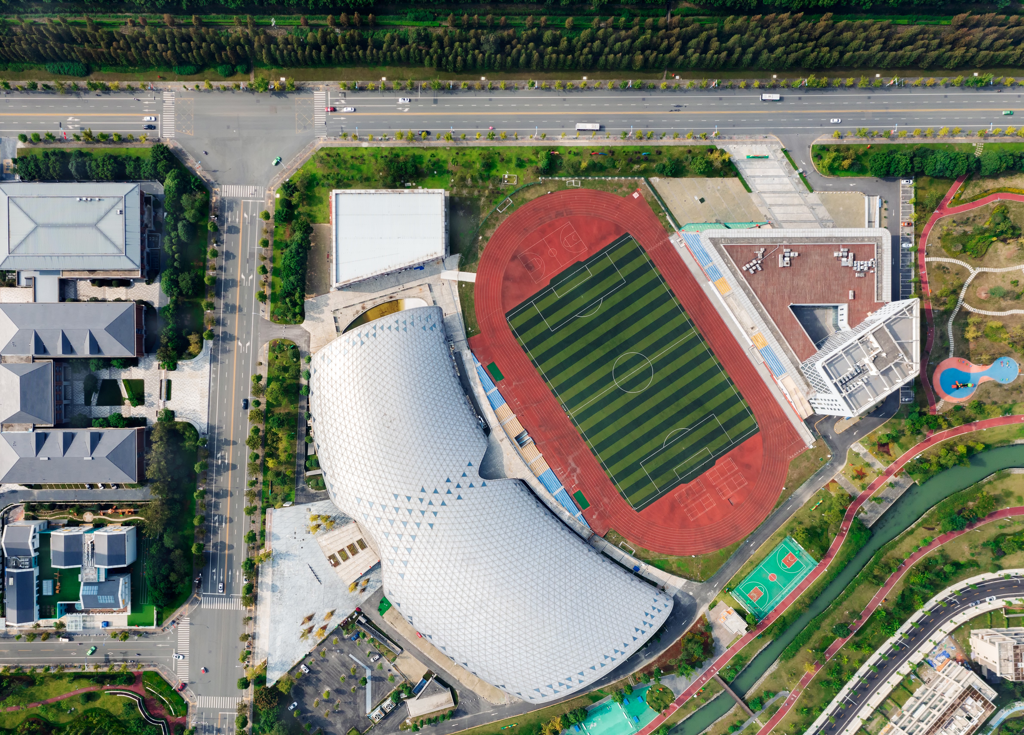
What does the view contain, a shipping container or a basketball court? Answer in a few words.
basketball court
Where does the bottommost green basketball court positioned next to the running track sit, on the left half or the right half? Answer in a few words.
right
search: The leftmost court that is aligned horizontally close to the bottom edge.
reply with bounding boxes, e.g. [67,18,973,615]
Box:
[560,704,636,735]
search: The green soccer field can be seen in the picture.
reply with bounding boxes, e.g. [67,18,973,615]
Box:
[501,229,761,515]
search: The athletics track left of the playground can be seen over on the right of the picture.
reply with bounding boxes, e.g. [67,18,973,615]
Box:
[465,189,807,557]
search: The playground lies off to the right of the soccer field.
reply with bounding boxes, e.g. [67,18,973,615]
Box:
[933,357,1018,402]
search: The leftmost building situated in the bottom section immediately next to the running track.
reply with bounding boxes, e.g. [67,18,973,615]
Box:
[310,307,674,703]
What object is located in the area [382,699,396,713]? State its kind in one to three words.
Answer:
cooling tower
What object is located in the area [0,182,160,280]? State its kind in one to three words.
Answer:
building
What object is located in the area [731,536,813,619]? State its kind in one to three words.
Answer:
basketball court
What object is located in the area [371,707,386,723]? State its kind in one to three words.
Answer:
cooling tower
